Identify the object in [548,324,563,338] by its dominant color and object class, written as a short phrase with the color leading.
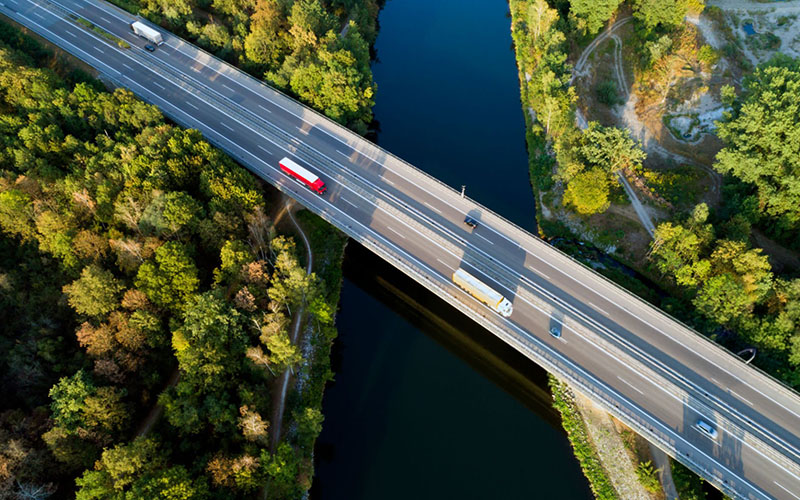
blue car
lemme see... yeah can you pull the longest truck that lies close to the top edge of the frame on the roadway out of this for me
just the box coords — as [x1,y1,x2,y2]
[128,22,163,45]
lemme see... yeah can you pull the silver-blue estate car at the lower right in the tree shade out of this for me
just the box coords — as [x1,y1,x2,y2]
[695,420,719,438]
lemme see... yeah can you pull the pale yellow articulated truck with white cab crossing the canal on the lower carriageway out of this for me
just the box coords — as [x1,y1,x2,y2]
[454,268,512,316]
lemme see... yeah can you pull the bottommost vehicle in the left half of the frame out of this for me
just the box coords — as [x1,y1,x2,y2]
[279,157,325,195]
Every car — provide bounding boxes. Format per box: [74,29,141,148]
[548,324,563,338]
[463,217,478,227]
[695,420,719,438]
[145,45,155,52]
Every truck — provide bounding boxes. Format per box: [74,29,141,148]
[128,22,163,45]
[454,268,512,316]
[279,157,325,195]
